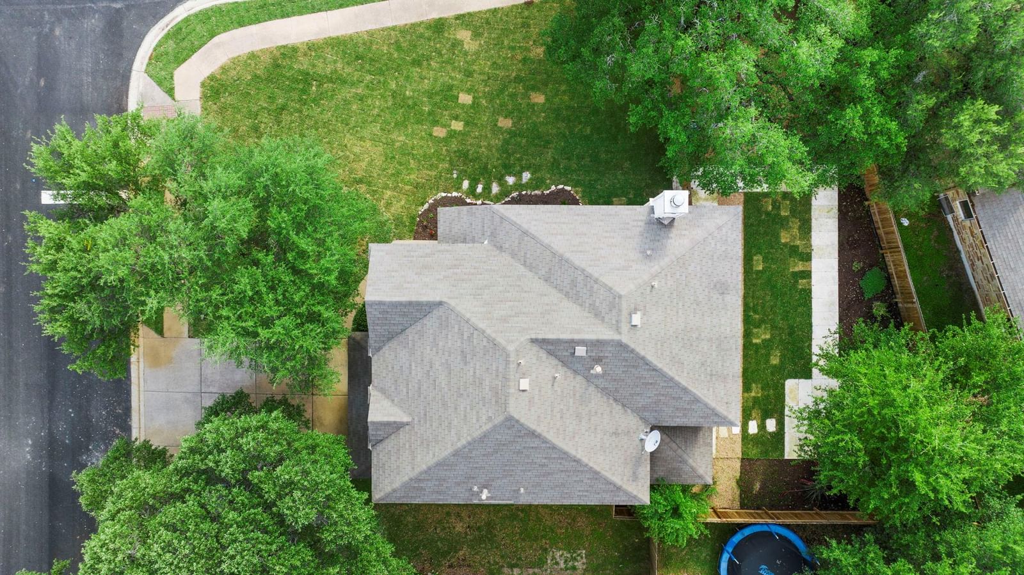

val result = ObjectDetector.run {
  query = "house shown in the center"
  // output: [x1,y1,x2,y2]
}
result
[348,191,744,505]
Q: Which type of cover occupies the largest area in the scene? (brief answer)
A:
trees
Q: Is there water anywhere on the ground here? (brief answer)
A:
No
